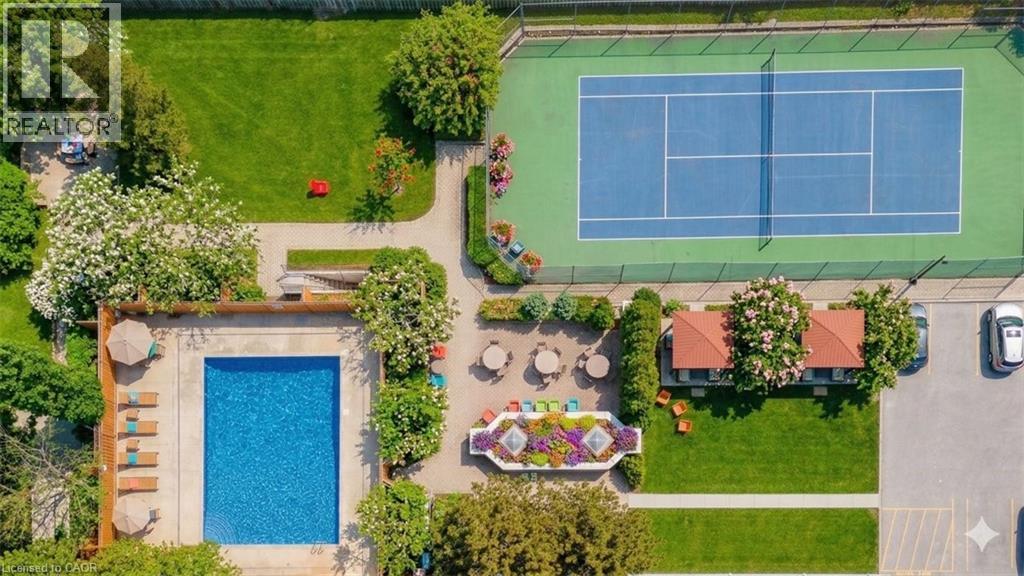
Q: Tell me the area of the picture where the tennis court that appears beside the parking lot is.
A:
top right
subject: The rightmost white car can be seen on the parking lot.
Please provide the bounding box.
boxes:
[989,302,1024,374]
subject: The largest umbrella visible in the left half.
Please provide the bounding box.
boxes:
[107,318,156,367]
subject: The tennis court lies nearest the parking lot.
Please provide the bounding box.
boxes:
[489,30,1024,284]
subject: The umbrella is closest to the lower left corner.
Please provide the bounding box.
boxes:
[112,492,151,530]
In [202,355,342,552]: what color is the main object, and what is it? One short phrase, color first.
blue swimming pool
